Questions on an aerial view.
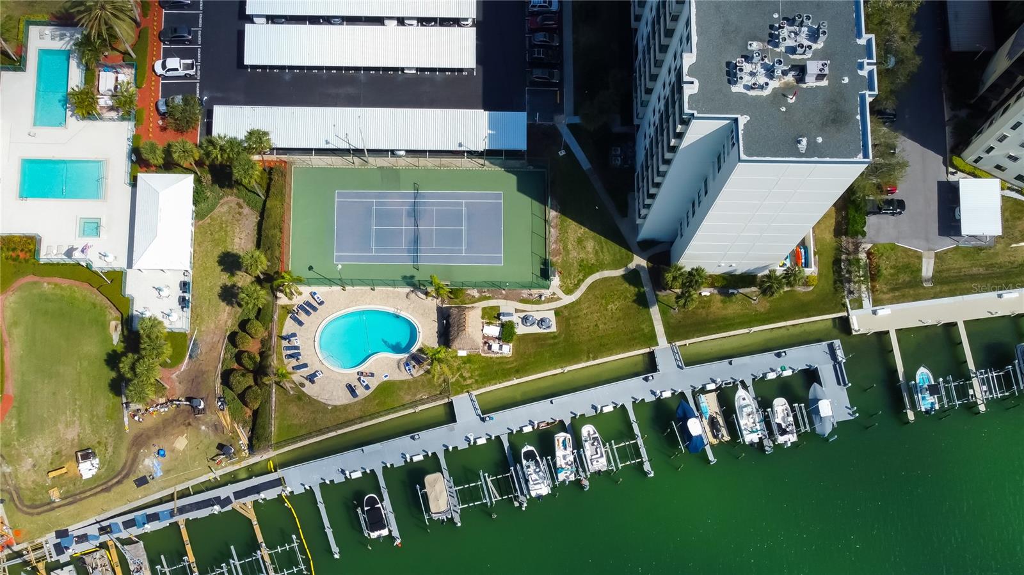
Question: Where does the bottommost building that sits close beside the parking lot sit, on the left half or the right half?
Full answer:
You can find the bottommost building that sits close beside the parking lot on the left side of the picture.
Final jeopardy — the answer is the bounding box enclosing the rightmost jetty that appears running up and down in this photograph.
[954,321,985,413]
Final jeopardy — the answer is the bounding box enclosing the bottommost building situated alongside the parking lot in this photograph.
[132,173,196,276]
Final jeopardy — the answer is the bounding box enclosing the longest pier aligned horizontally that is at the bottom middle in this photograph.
[48,339,859,564]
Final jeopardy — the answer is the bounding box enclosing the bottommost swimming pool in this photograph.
[316,306,422,373]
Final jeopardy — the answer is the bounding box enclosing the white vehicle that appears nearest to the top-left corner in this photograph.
[154,58,196,76]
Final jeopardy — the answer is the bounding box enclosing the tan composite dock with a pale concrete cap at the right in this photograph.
[847,287,1024,335]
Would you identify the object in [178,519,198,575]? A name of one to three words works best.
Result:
pier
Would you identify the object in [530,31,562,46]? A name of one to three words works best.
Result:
car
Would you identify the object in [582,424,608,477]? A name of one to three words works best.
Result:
boat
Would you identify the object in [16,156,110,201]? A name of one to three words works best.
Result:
swimming pool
